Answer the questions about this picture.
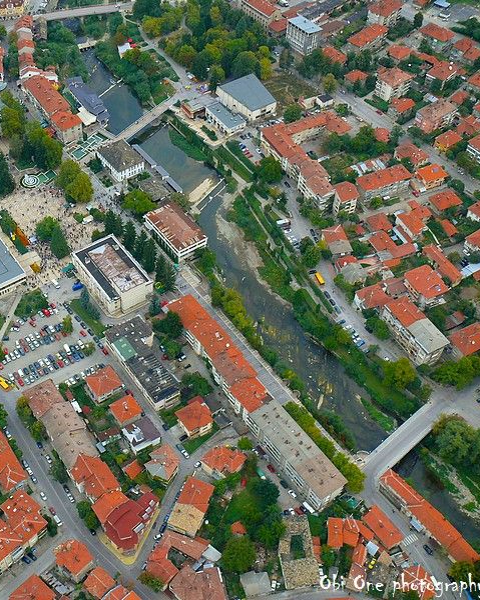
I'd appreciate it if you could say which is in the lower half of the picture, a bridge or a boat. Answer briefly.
bridge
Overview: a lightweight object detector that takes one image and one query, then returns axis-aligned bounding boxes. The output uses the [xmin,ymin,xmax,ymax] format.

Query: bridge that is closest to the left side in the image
[27,1,137,24]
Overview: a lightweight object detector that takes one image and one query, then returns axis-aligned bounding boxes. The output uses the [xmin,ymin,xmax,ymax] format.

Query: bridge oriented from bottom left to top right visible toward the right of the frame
[361,398,449,479]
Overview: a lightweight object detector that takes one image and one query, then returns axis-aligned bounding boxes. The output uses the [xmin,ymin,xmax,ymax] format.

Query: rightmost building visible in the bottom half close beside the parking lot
[168,294,348,512]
